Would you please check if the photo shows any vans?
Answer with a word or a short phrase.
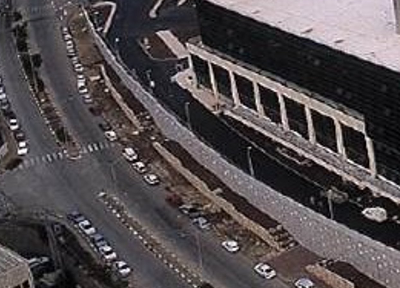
Yes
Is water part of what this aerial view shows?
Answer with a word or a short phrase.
No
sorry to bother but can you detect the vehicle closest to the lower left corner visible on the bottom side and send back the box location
[26,241,51,265]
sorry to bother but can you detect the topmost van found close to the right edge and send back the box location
[357,192,392,221]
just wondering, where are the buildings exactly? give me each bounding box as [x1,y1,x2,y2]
[0,246,36,288]
[180,0,400,184]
